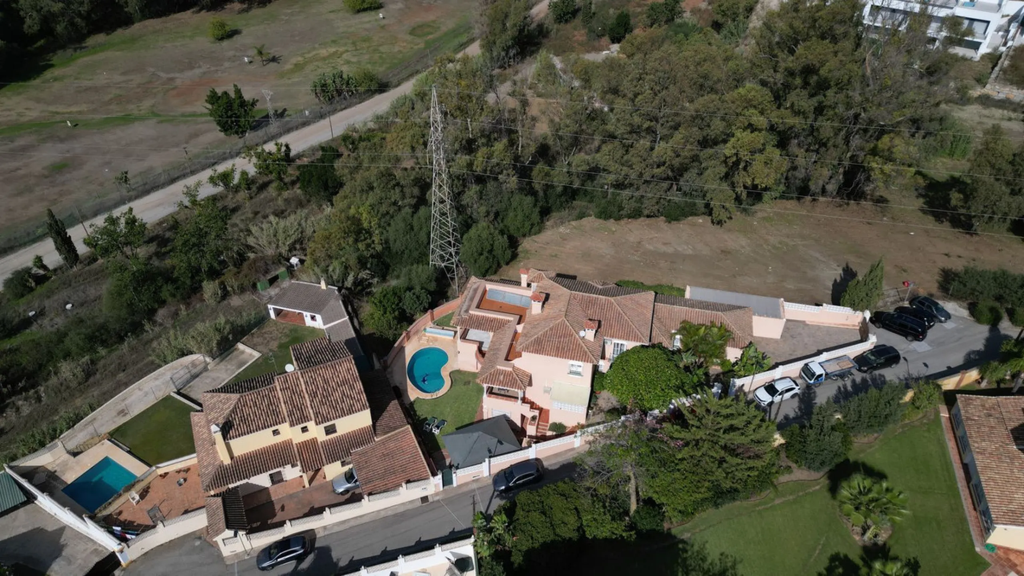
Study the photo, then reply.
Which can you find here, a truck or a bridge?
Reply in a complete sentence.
Of the two, only a truck appears.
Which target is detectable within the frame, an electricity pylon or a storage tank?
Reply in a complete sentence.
It is an electricity pylon that can be seen here.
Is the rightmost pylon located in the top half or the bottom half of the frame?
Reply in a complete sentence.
The rightmost pylon sits in the top half of the picture.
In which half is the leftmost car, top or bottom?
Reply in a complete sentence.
The leftmost car is in the bottom half of the image.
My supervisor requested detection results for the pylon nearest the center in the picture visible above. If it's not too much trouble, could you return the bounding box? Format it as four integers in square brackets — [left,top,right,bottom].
[429,83,468,294]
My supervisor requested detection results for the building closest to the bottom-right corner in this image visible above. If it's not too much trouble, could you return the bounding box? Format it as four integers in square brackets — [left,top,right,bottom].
[947,394,1024,546]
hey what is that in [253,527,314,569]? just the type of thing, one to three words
car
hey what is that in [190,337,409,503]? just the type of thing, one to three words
house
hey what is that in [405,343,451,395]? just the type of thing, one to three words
swimming pool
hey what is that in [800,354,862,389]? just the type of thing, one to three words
truck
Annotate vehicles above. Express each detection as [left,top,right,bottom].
[855,343,906,375]
[327,465,361,496]
[253,527,314,569]
[491,455,548,492]
[906,288,960,323]
[868,309,936,344]
[755,371,806,405]
[800,354,862,389]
